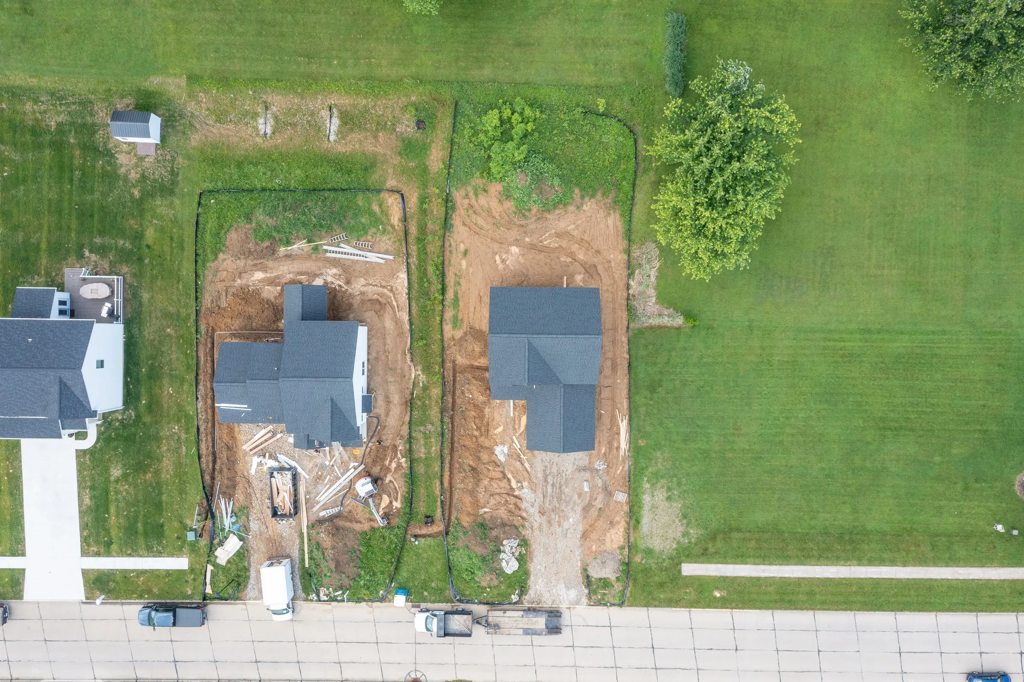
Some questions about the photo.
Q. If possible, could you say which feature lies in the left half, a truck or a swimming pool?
truck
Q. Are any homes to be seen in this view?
Yes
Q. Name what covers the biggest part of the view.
grass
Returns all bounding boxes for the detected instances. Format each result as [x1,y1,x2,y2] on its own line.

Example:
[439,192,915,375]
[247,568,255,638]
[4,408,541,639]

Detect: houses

[488,287,604,453]
[214,284,374,450]
[0,287,128,439]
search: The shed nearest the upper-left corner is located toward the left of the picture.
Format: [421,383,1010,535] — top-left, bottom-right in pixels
[106,109,161,155]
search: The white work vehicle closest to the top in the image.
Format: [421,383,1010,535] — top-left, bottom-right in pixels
[352,471,389,526]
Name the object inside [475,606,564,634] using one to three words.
trailer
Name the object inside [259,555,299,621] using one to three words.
truck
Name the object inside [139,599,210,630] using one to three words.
truck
